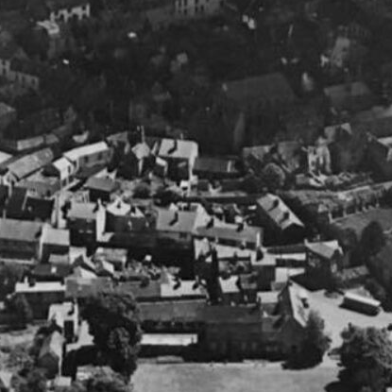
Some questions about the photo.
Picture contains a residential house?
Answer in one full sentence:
Yes, there's a residential house down there.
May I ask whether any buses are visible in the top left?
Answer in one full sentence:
No, there's no bus to be seen in the top left.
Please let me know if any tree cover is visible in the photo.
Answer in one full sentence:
Yes, tree cover shows up in the scene.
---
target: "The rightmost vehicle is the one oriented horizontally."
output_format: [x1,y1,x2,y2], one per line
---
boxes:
[343,286,383,311]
